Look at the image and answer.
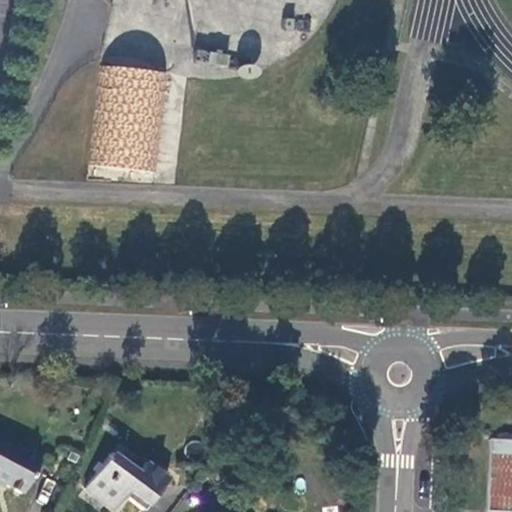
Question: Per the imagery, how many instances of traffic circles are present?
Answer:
1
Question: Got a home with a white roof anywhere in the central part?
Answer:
No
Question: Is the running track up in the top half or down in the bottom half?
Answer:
top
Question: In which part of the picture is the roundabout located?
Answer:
bottom right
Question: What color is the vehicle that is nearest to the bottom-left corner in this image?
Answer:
white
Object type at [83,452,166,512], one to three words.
house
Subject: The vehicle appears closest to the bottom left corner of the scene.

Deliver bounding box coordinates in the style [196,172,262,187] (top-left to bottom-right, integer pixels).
[36,476,56,504]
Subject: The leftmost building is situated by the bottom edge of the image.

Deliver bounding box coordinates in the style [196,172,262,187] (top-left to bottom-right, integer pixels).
[0,448,42,499]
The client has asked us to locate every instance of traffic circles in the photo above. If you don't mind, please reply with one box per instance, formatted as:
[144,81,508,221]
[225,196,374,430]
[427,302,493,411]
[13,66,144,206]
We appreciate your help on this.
[352,326,448,420]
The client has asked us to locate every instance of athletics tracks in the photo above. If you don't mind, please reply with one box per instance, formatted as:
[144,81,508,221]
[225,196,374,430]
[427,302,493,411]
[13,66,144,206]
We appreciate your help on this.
[410,0,512,83]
